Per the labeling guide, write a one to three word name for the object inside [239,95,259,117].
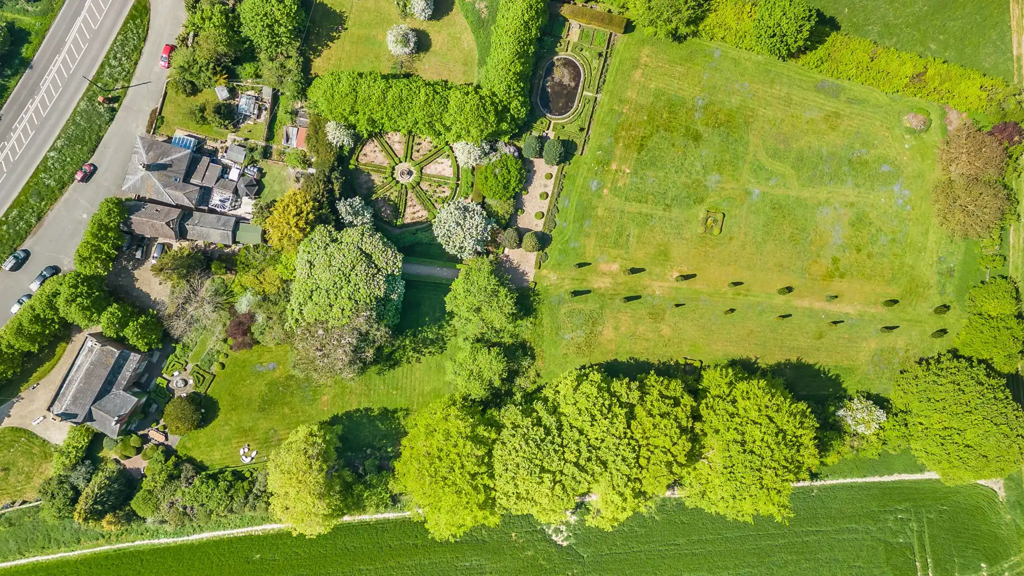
greenhouse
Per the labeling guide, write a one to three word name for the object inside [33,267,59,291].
car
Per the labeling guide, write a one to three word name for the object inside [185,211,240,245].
barn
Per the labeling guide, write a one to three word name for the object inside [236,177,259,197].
gazebo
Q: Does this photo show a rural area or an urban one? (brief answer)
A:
rural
